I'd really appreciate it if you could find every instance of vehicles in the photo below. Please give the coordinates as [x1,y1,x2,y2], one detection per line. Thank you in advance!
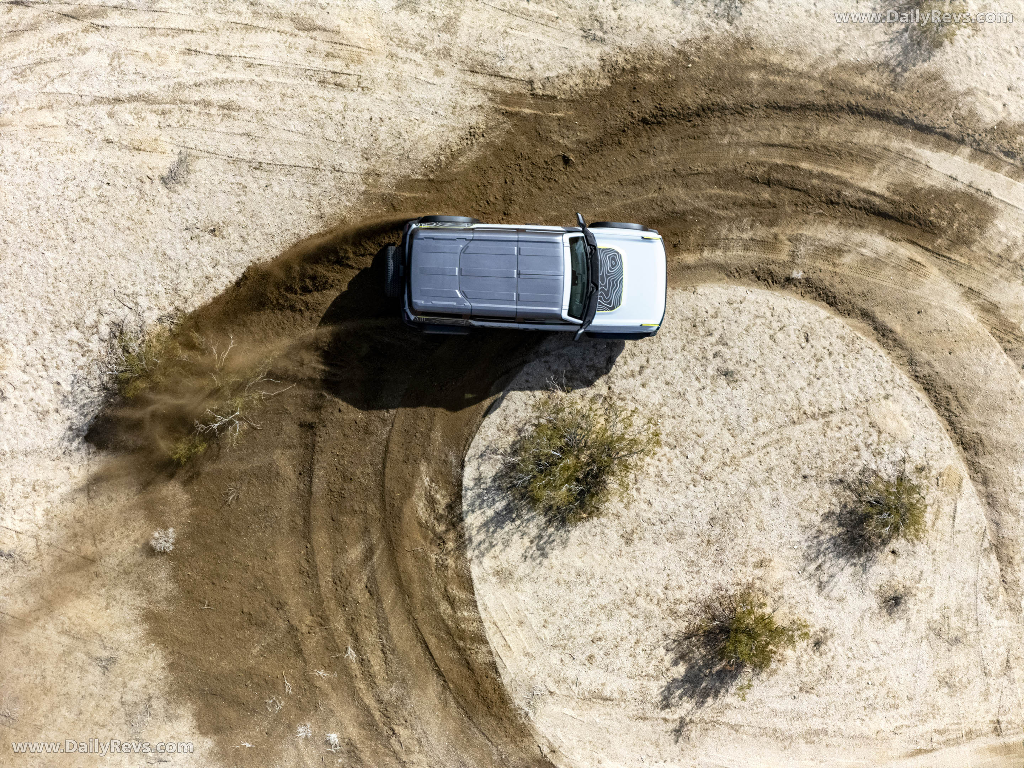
[384,212,671,345]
